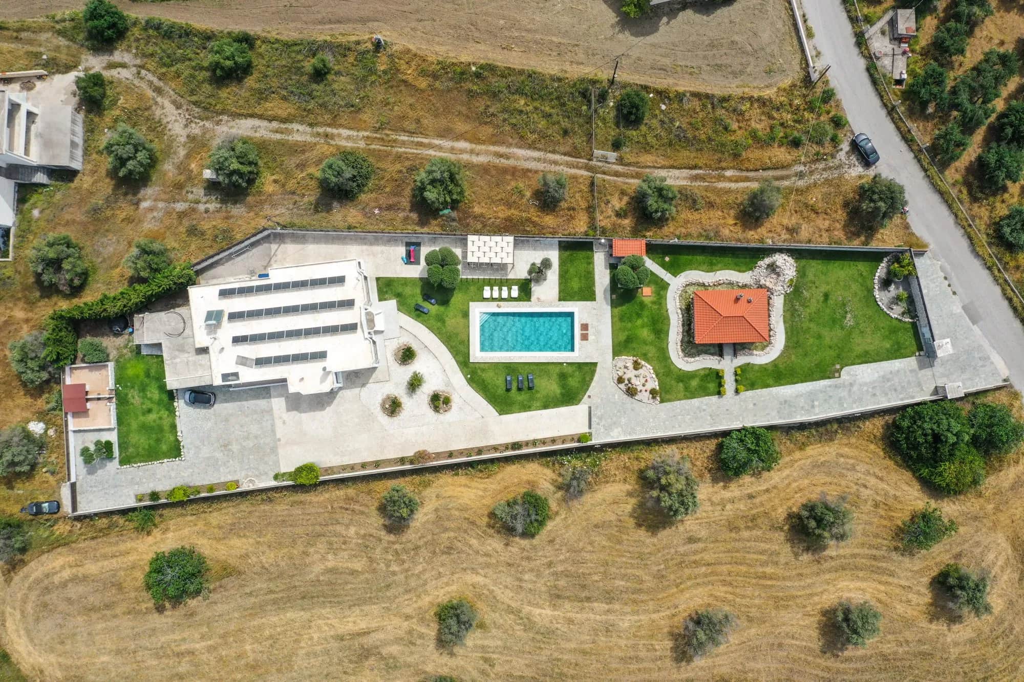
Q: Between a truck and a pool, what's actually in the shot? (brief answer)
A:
pool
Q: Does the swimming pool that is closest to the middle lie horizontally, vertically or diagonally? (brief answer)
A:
horizontally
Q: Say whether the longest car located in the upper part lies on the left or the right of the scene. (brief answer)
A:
right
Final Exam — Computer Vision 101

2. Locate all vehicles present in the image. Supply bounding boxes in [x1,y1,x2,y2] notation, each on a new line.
[852,132,880,165]
[27,500,62,515]
[184,390,217,406]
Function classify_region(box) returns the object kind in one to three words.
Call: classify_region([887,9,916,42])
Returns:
shed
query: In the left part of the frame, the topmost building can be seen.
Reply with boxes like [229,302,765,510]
[0,90,85,183]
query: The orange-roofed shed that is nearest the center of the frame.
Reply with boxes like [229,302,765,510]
[611,239,647,257]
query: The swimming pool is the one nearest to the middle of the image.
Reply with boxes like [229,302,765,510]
[476,308,579,357]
